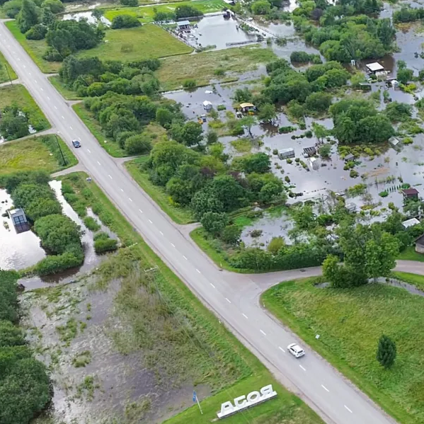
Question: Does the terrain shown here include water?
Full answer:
Yes, there's water in this view.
